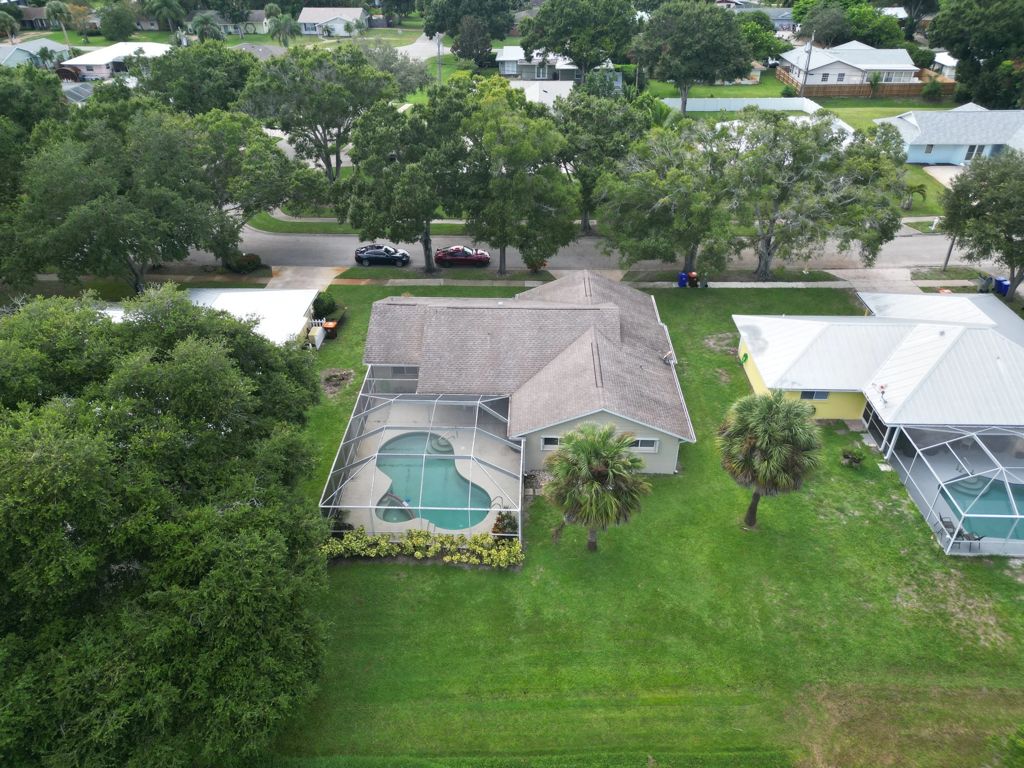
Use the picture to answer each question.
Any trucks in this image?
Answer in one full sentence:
No, this view has no truck in it.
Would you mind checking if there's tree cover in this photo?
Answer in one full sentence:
Yes, tree cover shows up in the scene.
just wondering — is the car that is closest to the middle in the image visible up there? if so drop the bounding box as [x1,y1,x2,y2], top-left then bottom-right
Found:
[433,244,493,267]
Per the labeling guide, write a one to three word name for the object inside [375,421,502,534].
swimming pool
